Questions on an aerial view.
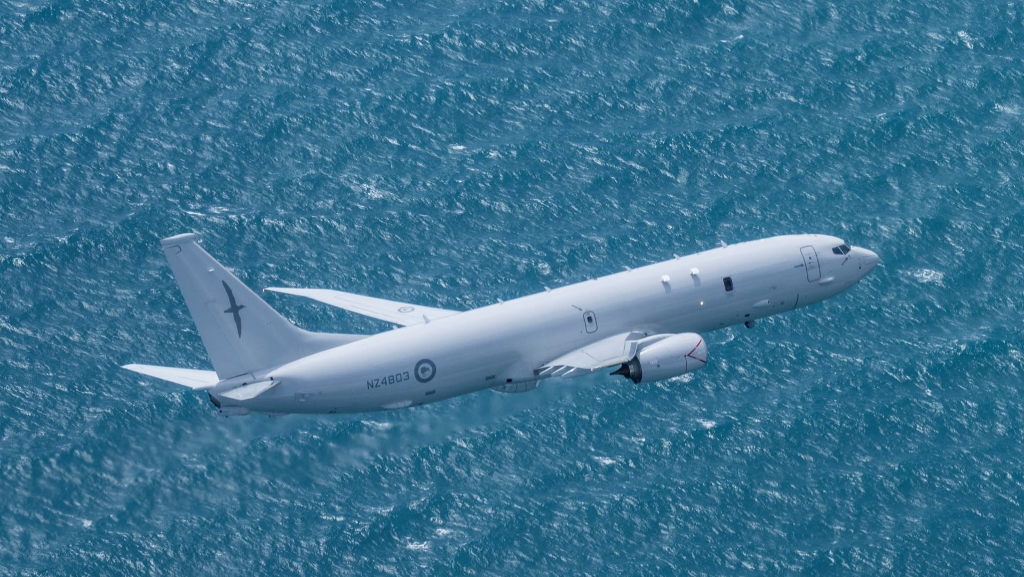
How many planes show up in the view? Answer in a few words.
1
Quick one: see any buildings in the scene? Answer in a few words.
No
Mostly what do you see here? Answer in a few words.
water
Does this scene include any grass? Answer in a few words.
No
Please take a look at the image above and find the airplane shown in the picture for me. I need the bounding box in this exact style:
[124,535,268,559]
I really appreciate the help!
[122,233,878,418]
